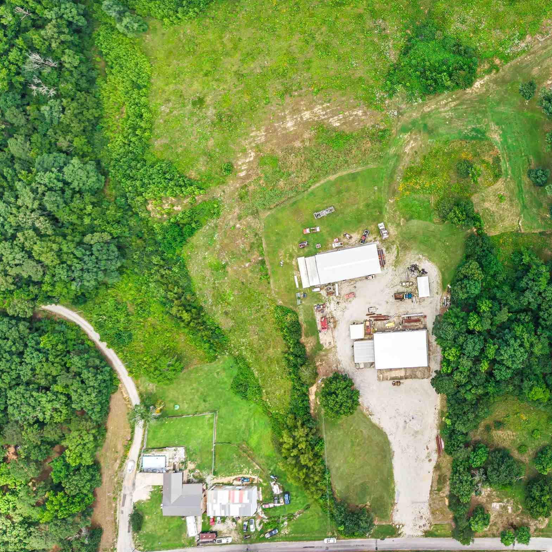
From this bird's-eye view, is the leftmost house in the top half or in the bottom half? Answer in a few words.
bottom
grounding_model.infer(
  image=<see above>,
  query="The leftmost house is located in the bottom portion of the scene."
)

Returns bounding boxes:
[163,471,204,516]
